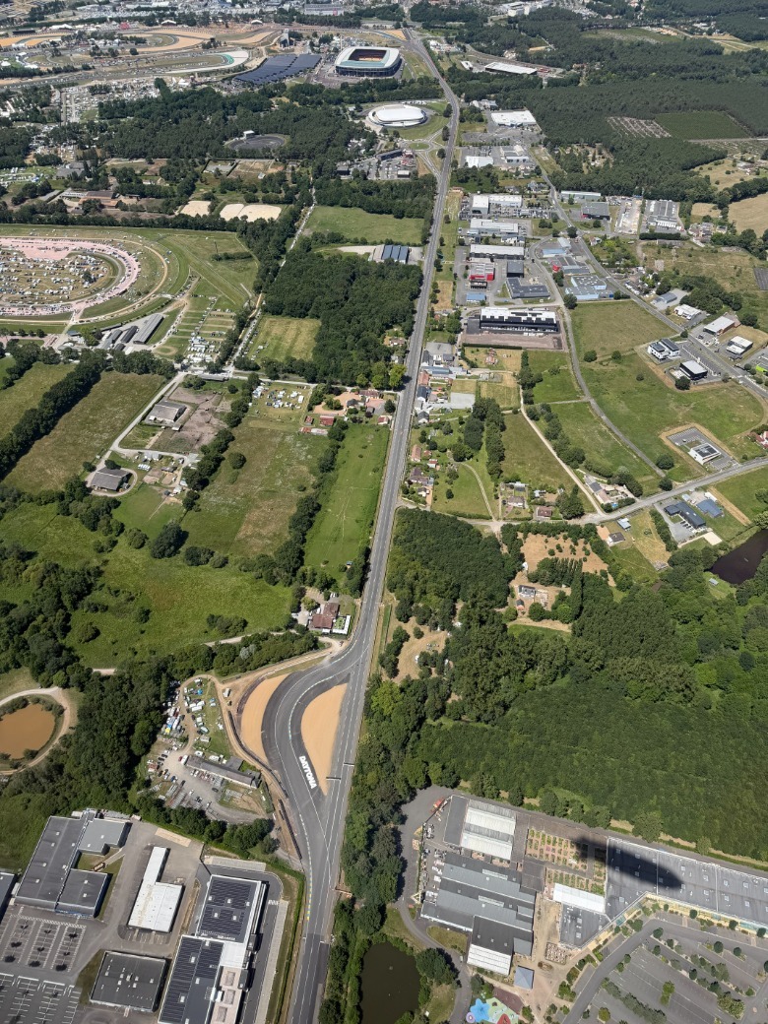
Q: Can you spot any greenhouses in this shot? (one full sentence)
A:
Yes, there's a greenhouse here.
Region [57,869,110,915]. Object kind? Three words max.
building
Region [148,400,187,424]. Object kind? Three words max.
barn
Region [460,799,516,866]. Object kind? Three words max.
greenhouse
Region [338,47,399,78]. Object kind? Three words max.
stadium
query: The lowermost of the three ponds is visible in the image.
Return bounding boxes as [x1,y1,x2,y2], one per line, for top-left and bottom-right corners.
[359,943,418,1024]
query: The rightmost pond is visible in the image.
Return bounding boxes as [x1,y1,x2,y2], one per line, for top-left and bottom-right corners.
[708,527,768,585]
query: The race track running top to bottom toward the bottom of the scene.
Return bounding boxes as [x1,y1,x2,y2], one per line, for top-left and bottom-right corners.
[276,643,356,868]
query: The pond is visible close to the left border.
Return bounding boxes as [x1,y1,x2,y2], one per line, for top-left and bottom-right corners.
[0,700,55,759]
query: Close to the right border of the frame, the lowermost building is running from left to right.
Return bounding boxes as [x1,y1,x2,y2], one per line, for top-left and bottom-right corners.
[603,835,768,934]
